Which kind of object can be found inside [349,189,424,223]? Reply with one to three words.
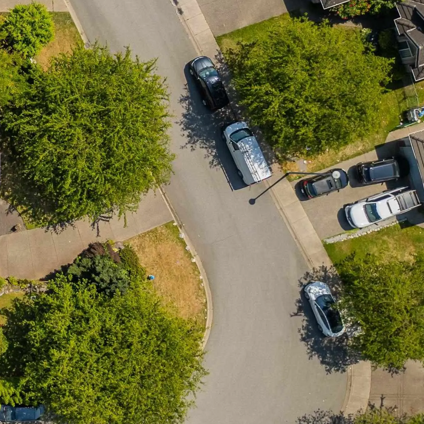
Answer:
truck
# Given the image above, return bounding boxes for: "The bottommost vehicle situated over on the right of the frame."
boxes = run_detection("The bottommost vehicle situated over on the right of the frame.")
[303,282,345,338]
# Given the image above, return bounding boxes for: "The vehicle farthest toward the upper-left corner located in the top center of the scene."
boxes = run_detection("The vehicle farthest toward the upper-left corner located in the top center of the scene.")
[189,52,232,113]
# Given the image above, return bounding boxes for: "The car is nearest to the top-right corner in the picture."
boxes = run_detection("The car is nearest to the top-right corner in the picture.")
[352,154,407,184]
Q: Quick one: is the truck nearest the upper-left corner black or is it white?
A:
black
